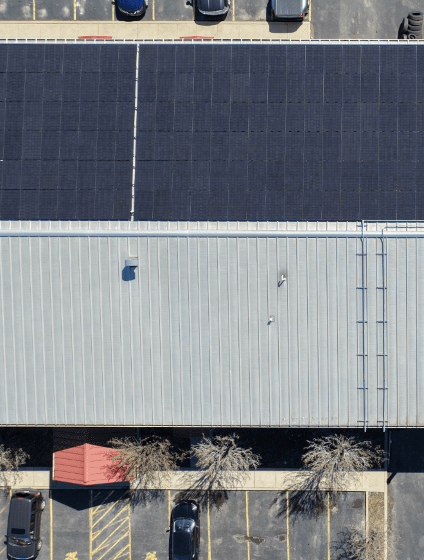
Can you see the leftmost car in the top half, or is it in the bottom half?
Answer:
bottom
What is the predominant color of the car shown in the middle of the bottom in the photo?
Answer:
black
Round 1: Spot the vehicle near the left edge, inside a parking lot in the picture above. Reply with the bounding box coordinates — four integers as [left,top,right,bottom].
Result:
[2,484,44,560]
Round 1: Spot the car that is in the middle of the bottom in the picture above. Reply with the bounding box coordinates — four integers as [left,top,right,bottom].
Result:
[165,499,200,560]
